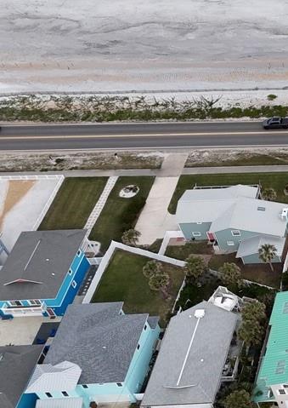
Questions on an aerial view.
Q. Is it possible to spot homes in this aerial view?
Yes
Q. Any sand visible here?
Yes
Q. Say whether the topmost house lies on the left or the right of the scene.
right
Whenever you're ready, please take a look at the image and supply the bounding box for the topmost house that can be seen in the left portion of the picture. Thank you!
[0,229,102,323]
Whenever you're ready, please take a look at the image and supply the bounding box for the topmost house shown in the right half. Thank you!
[168,180,288,268]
